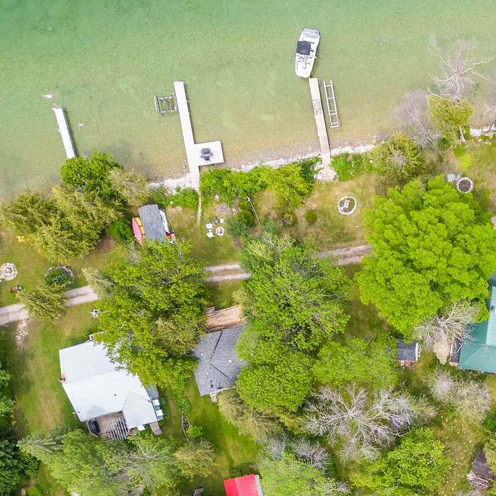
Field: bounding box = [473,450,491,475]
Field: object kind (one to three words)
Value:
shed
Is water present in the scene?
Yes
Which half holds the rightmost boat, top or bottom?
top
